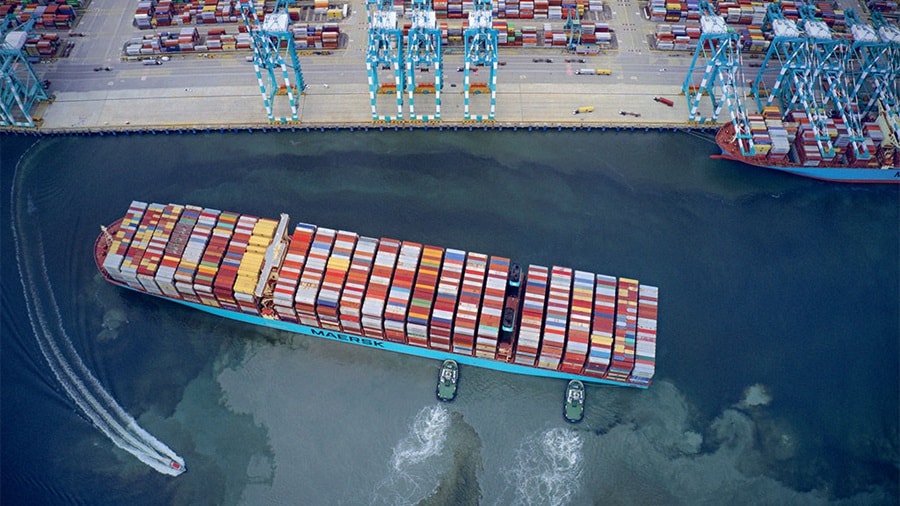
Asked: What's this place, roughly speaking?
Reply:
port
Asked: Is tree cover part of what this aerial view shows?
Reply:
No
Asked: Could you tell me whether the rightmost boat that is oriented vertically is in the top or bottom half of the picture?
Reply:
bottom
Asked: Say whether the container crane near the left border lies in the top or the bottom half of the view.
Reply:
top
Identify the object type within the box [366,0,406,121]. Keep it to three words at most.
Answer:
container crane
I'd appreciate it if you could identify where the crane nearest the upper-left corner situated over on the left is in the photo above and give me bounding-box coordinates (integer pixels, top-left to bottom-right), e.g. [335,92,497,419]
[0,15,49,126]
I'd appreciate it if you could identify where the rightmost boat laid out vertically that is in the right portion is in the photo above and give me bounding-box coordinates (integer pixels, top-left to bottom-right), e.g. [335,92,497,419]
[562,380,584,427]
